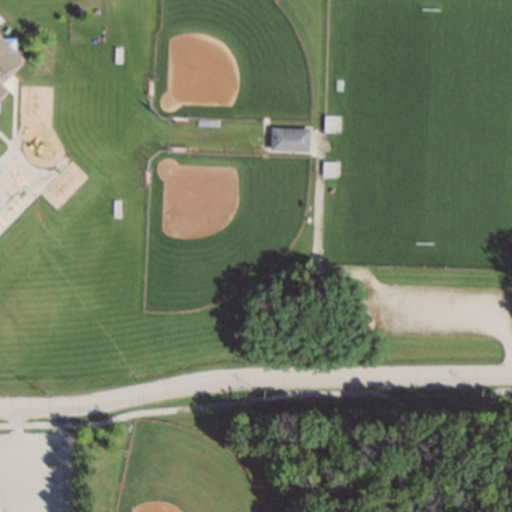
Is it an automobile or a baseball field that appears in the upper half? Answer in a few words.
baseball field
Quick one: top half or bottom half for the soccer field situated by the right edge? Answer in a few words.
top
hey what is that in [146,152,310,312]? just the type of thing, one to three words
baseball field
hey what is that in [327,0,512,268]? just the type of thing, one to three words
soccer field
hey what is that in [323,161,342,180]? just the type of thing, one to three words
building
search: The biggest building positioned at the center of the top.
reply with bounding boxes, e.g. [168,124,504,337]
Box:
[264,118,320,156]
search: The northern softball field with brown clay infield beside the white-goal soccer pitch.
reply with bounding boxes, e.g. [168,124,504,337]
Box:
[153,0,312,121]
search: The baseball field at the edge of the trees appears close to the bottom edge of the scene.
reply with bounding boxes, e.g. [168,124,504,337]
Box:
[116,418,258,512]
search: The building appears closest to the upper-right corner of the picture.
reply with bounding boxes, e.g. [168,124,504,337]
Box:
[324,116,342,134]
